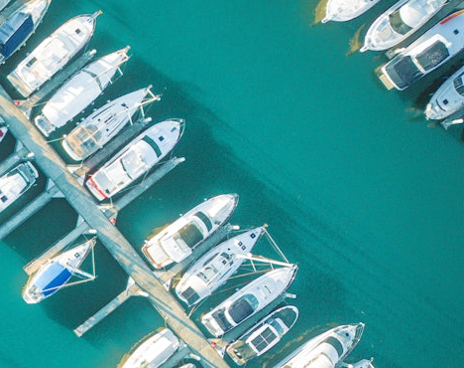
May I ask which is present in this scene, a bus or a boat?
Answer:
boat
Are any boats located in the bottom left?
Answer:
Yes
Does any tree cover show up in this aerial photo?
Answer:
No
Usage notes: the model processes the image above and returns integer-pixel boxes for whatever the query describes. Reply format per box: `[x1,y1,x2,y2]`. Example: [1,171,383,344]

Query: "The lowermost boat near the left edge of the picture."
[20,238,97,305]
